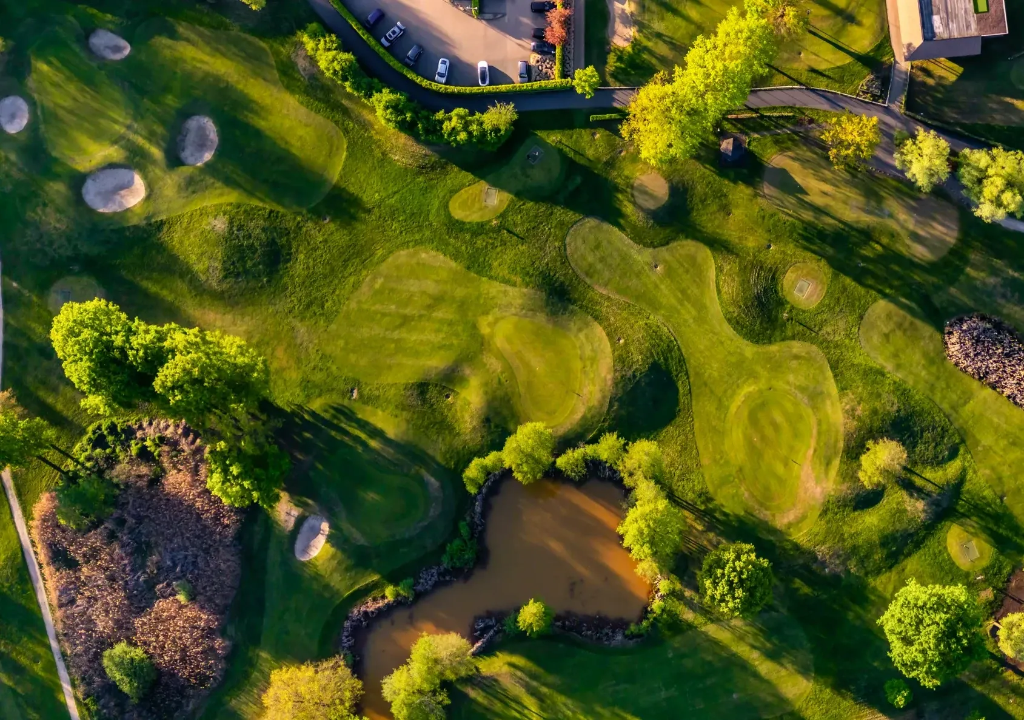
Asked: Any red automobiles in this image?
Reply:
No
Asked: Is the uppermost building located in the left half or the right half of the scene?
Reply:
right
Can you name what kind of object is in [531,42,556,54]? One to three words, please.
vehicle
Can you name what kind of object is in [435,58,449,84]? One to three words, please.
car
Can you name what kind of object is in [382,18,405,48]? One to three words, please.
car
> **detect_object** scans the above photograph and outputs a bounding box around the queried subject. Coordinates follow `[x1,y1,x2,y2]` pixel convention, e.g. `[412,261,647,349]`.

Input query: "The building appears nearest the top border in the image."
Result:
[897,0,1010,60]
